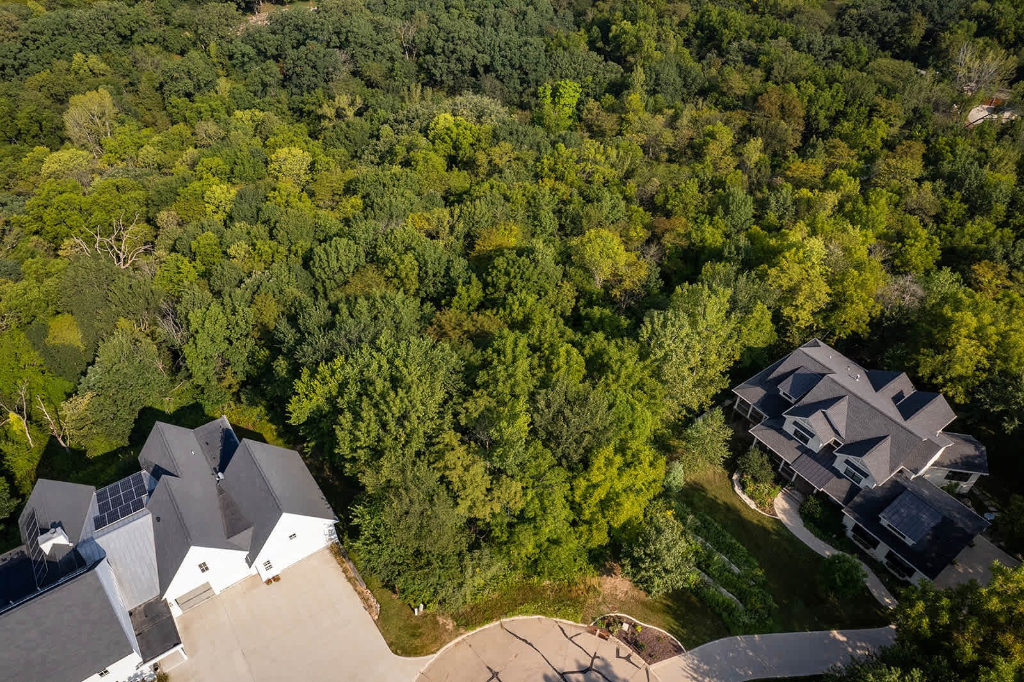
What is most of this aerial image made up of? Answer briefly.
trees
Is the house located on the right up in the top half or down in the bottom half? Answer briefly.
bottom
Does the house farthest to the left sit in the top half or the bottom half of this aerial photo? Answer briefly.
bottom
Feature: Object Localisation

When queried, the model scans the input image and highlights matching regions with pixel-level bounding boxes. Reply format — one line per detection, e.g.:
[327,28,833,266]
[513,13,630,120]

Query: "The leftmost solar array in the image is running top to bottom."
[24,509,46,586]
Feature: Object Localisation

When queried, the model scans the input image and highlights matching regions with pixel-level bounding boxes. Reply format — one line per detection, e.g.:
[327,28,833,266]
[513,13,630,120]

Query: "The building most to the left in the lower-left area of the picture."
[0,416,341,682]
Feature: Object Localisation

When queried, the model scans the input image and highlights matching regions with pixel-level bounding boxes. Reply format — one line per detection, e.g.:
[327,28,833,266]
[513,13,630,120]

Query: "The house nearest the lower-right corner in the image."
[729,337,991,586]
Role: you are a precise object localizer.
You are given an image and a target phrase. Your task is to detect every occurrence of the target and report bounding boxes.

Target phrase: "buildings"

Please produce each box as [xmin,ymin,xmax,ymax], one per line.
[729,337,991,586]
[0,416,341,682]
